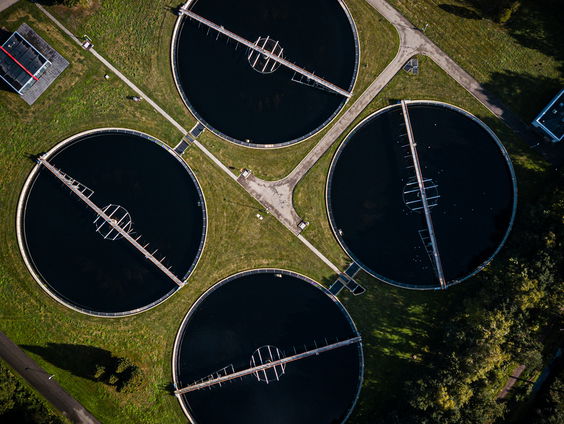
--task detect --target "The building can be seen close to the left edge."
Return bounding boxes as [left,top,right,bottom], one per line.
[0,31,52,95]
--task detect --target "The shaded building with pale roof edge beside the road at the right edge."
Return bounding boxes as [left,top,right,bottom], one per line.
[533,87,564,142]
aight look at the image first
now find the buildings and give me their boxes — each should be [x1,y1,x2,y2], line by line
[533,87,564,142]
[0,31,52,95]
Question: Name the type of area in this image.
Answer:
industrial area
